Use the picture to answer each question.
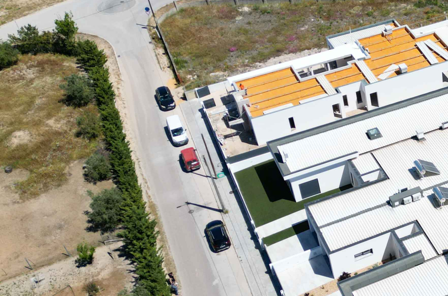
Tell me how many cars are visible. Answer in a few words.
4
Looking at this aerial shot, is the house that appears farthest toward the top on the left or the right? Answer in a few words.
right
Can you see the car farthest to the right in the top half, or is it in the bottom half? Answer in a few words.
bottom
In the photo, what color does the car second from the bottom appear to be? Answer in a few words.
red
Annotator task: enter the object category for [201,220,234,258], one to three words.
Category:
car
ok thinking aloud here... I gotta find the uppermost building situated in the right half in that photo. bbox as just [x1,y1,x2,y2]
[228,19,448,146]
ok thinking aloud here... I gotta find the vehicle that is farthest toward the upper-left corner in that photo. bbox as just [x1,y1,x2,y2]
[152,83,177,112]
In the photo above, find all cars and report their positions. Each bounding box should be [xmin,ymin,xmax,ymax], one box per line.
[152,83,177,112]
[177,147,201,175]
[201,220,234,258]
[160,109,189,147]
